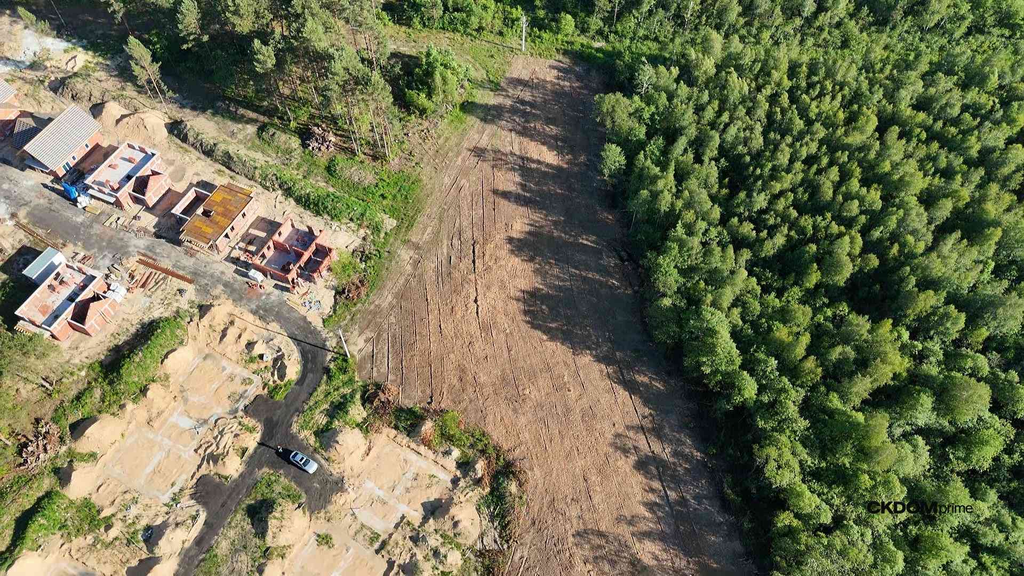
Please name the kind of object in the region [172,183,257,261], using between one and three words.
house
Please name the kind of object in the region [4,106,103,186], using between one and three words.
house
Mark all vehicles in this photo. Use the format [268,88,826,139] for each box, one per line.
[290,449,318,475]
